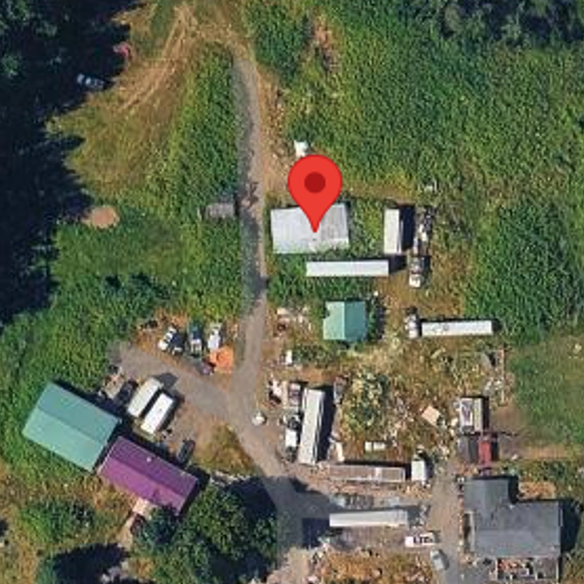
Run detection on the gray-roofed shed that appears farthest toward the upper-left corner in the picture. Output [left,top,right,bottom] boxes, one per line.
[200,202,235,218]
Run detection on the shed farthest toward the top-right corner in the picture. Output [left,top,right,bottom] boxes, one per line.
[269,203,350,252]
